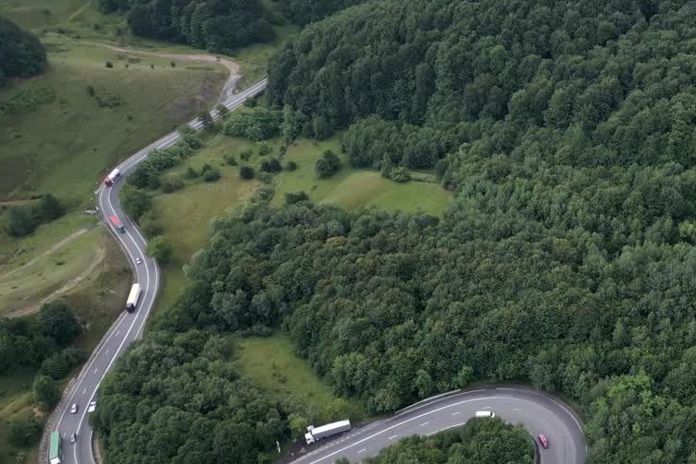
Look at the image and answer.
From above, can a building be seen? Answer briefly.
No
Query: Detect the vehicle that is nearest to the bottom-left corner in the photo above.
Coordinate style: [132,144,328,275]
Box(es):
[49,429,64,464]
